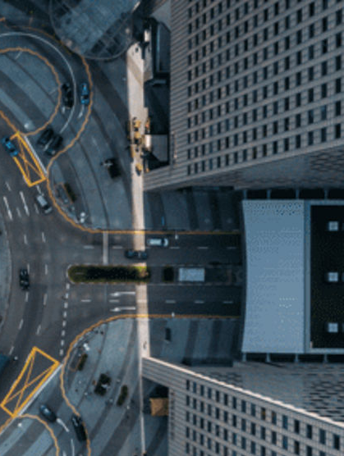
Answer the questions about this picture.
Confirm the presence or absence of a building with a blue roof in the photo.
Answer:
Yes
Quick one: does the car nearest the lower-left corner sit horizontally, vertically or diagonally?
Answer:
diagonally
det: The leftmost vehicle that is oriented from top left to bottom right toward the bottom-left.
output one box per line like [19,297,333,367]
[38,403,59,424]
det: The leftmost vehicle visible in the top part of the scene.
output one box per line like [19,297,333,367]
[2,134,20,157]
